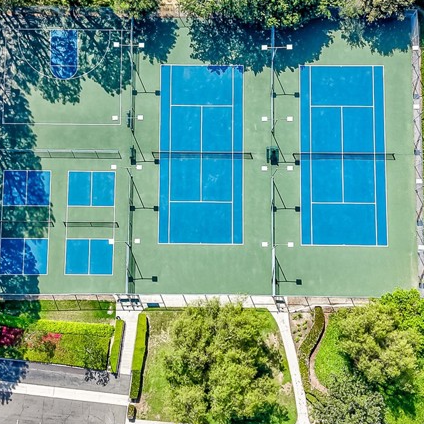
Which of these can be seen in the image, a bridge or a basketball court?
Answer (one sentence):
The image shows a basketball court.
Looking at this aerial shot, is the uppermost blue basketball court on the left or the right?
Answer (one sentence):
You can find the uppermost blue basketball court on the left side of the picture.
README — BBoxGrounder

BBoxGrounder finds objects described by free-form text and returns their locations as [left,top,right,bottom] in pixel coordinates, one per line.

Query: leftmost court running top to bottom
[0,171,51,275]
